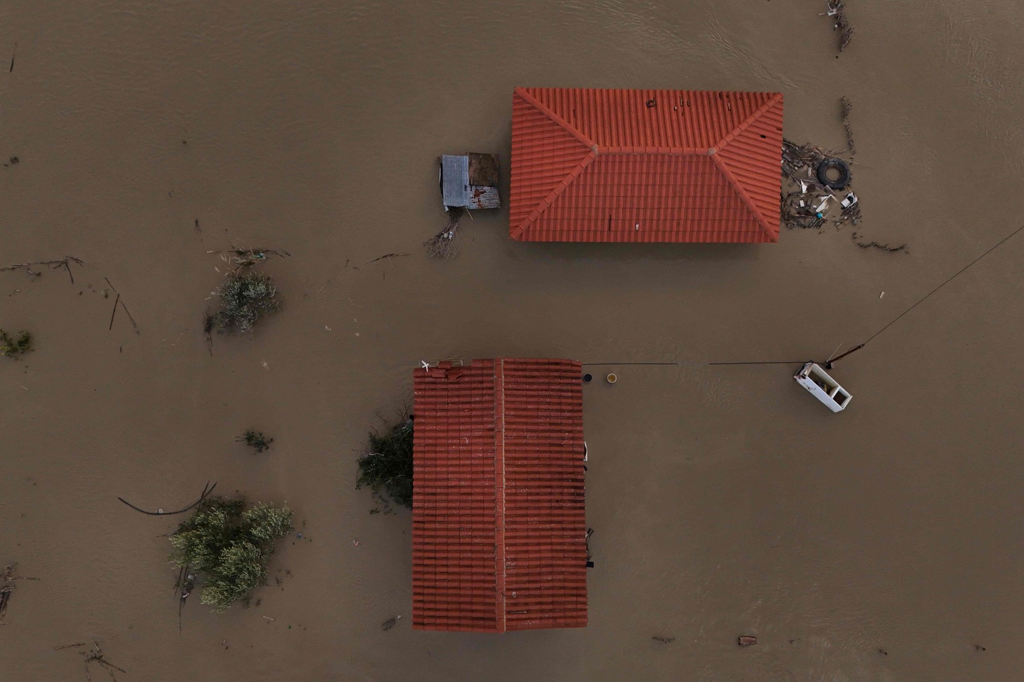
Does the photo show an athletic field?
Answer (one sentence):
No, the picture doesn't show any athletic field.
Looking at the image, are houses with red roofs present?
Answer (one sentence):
Yes, there's a house with a red roof here.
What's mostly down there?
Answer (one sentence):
The bulk of the photo consists of water.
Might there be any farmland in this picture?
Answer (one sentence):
No, the picture contains no farmland.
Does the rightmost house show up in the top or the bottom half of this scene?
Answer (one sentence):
The rightmost house sits in the top half of the picture.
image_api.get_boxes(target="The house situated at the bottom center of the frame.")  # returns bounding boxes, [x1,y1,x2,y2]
[412,359,588,636]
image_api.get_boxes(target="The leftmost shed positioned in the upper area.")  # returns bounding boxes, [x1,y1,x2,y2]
[438,152,501,212]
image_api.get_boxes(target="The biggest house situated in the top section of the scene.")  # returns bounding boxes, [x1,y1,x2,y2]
[508,86,785,243]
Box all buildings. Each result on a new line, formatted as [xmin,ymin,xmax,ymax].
[508,86,785,243]
[438,152,501,212]
[412,359,588,636]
